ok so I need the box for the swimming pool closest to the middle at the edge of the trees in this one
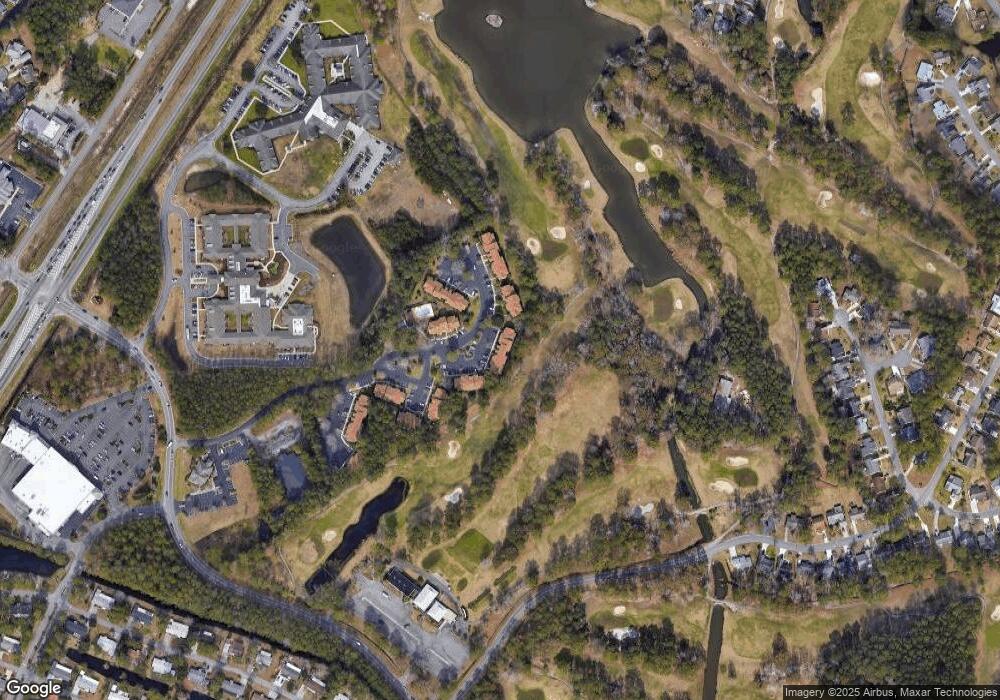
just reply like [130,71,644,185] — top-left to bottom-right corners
[412,304,435,321]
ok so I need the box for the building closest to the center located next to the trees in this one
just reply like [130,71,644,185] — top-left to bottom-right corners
[486,326,520,375]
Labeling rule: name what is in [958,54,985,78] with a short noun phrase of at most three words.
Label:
house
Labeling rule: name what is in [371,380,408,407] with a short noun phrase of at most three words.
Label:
building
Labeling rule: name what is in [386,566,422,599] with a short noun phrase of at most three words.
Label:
barn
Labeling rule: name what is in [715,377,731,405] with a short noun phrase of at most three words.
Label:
shed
